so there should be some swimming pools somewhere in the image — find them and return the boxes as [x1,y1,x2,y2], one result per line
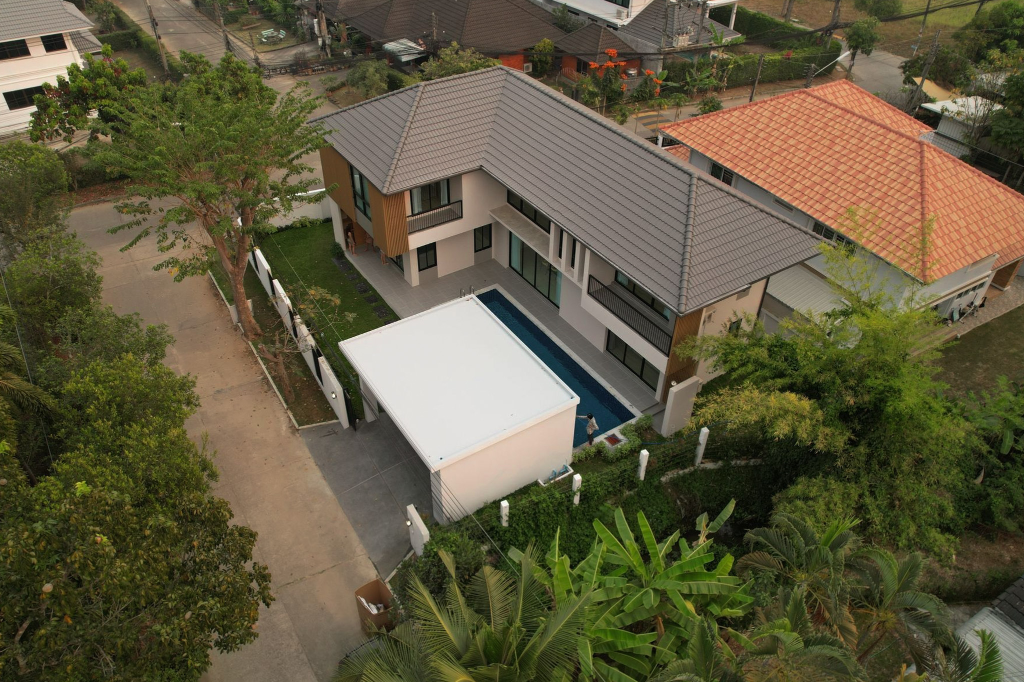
[419,283,648,456]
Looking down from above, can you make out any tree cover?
Yes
